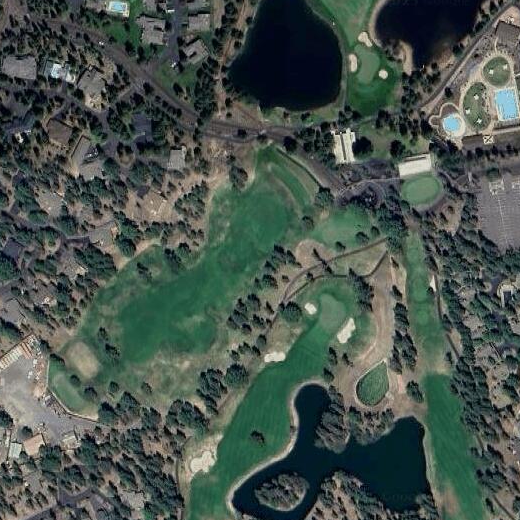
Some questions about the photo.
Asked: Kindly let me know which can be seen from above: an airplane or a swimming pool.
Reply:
swimming pool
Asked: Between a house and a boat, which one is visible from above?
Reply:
house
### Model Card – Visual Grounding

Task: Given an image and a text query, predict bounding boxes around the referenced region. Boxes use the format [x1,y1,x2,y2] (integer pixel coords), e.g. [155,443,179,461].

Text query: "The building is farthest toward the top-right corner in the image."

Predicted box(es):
[495,22,520,44]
